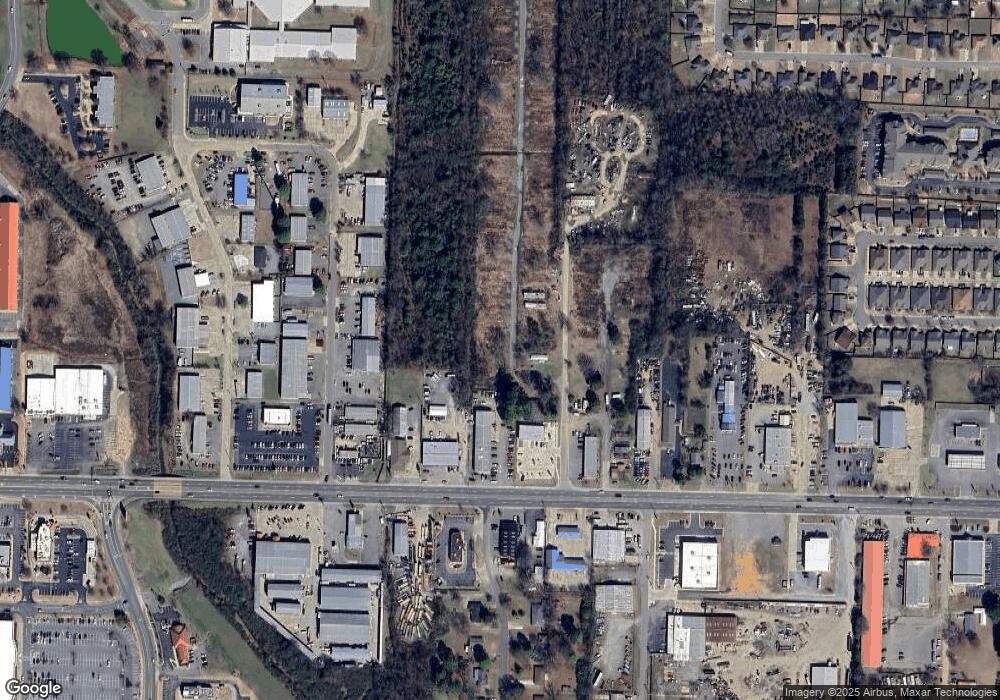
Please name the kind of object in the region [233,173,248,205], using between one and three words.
building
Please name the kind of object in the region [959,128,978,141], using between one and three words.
swimming pool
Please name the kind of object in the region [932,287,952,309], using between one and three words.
house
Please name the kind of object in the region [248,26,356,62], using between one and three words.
building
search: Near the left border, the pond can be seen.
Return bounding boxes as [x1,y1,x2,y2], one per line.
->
[47,0,121,65]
